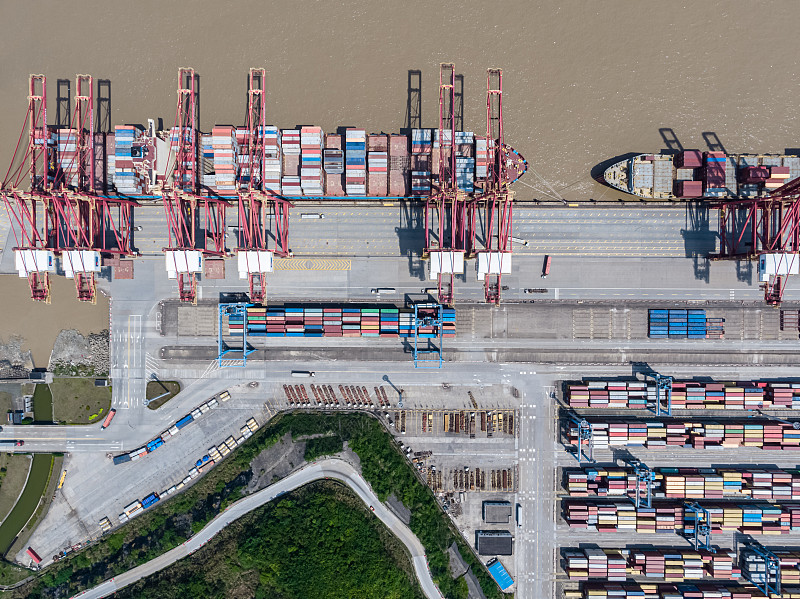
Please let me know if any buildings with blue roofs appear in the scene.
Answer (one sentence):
Yes, a building with a blue roof can be made out from above.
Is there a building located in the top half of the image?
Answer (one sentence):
No, in the top half of the image there is no building.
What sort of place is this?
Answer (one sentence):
What you see here is a port.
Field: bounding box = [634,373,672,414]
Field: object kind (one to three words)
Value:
container crane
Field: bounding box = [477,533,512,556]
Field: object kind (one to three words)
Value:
building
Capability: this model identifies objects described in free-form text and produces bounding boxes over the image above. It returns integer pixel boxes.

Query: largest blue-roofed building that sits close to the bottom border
[488,558,514,591]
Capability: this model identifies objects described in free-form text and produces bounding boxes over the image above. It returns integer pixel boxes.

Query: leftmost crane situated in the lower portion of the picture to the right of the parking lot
[562,414,593,461]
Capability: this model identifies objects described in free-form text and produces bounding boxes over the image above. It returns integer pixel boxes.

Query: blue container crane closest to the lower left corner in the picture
[218,302,259,368]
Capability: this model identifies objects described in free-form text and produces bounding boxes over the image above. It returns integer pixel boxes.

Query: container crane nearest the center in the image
[409,302,445,368]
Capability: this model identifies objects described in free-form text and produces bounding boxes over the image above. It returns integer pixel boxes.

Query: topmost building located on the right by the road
[482,501,512,523]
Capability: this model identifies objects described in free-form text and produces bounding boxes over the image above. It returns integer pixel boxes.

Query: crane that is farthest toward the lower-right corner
[735,537,781,594]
